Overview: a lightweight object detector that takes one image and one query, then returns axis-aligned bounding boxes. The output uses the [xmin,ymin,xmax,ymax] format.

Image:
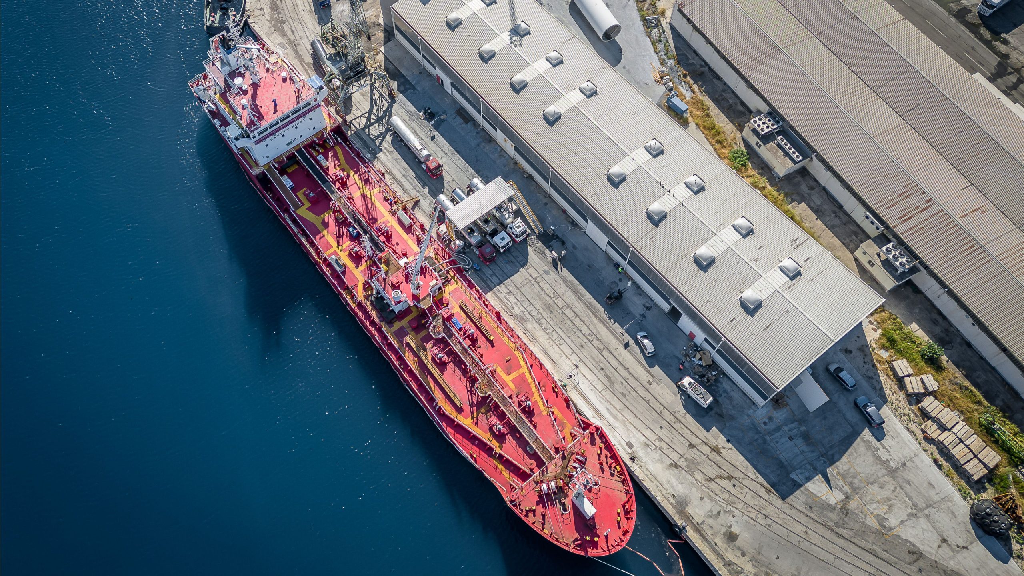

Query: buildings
[390,0,888,408]
[669,0,1024,399]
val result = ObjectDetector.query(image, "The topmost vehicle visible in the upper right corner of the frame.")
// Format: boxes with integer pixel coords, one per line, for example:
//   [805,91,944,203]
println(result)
[979,0,1010,21]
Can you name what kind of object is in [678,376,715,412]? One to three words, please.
truck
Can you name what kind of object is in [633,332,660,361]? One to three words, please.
car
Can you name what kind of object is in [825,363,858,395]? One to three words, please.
car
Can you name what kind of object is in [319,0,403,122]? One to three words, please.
crane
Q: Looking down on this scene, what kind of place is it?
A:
port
